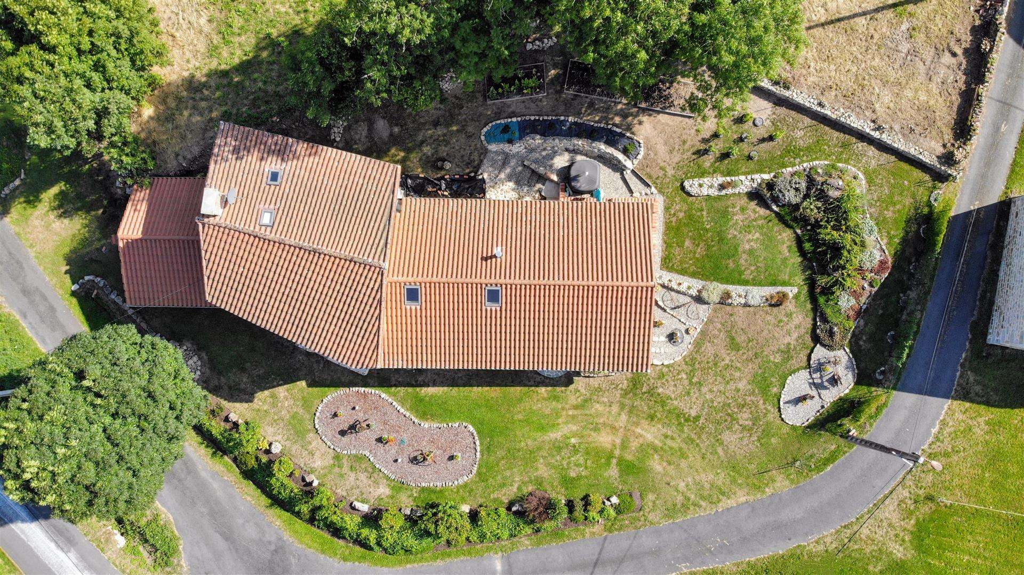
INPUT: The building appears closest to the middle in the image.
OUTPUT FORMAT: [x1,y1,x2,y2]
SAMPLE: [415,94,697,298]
[381,196,660,374]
